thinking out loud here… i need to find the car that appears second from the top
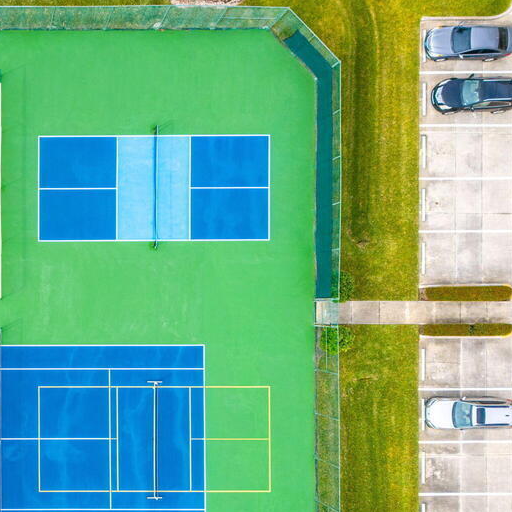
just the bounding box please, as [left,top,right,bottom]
[427,72,512,114]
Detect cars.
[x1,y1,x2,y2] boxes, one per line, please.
[423,395,512,434]
[427,72,512,114]
[422,20,511,62]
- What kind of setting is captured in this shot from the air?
sports ground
